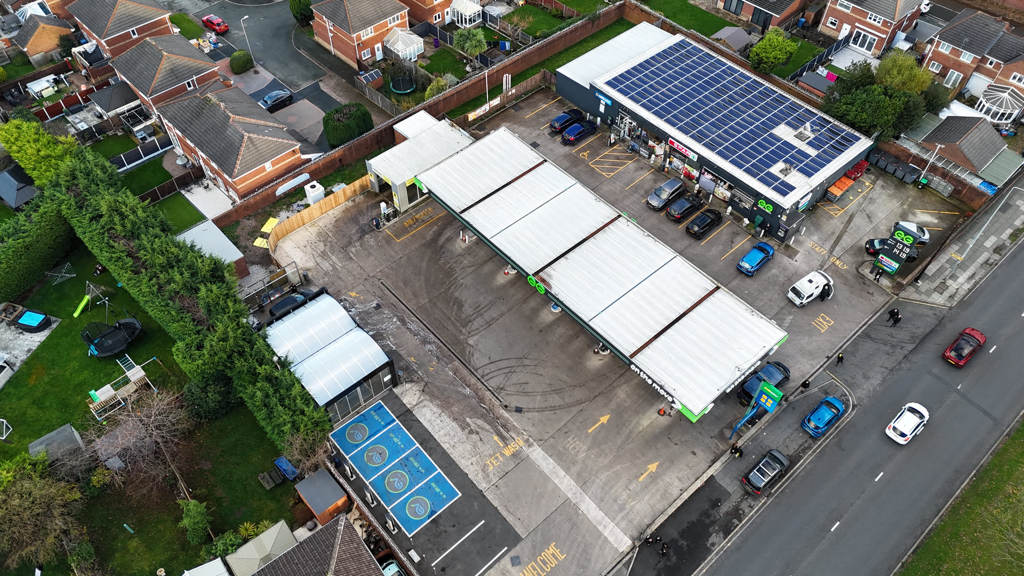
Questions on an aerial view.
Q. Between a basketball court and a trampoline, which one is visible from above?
trampoline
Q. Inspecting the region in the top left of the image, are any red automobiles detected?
Yes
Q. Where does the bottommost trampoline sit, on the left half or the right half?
left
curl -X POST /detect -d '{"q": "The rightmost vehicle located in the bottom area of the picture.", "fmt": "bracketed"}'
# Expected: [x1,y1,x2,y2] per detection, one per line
[939,328,983,370]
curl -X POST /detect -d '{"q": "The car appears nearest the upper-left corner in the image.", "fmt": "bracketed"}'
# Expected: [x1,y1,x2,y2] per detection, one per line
[200,16,232,35]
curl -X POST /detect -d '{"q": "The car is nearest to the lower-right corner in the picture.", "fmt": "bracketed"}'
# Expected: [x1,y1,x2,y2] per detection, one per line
[885,403,928,446]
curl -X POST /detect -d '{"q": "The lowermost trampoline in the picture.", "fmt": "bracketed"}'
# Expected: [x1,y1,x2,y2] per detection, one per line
[82,315,150,358]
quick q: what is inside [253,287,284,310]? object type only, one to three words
car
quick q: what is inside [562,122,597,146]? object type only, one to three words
car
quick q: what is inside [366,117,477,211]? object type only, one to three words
building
